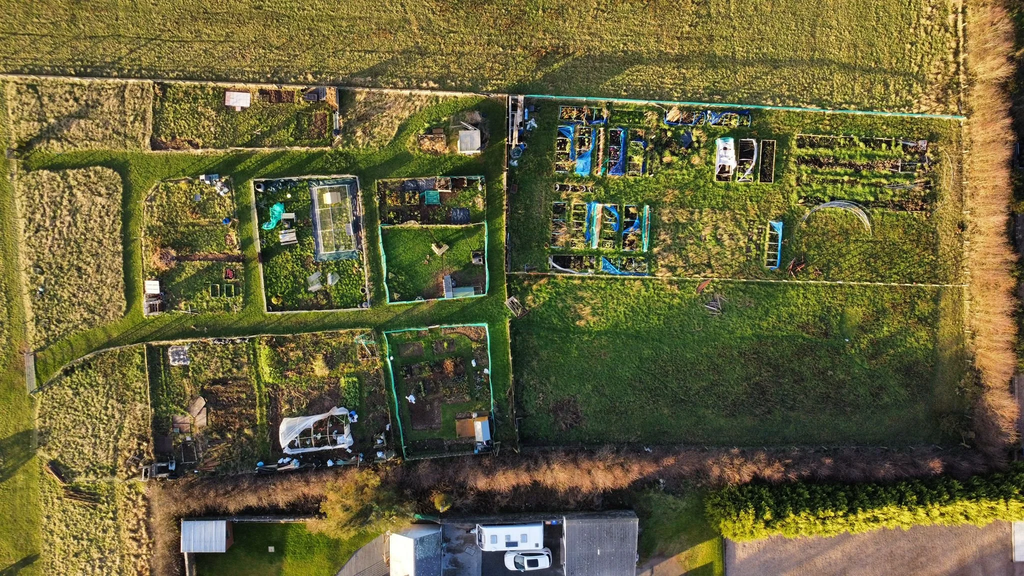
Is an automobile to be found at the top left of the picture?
No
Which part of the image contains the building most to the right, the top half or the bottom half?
bottom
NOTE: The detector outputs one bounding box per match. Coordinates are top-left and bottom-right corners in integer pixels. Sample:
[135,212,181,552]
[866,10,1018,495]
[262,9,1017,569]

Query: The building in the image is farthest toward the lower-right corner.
[562,500,641,575]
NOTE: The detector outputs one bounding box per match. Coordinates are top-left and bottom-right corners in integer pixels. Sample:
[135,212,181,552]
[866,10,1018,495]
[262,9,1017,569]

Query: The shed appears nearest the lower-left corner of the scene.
[180,515,234,553]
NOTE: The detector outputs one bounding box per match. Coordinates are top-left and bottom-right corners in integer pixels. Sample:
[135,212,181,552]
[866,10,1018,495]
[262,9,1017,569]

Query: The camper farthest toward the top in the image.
[470,516,543,551]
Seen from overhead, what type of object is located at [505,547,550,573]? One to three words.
car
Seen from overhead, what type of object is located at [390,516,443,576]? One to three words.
shed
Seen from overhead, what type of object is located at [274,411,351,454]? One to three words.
greenhouse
